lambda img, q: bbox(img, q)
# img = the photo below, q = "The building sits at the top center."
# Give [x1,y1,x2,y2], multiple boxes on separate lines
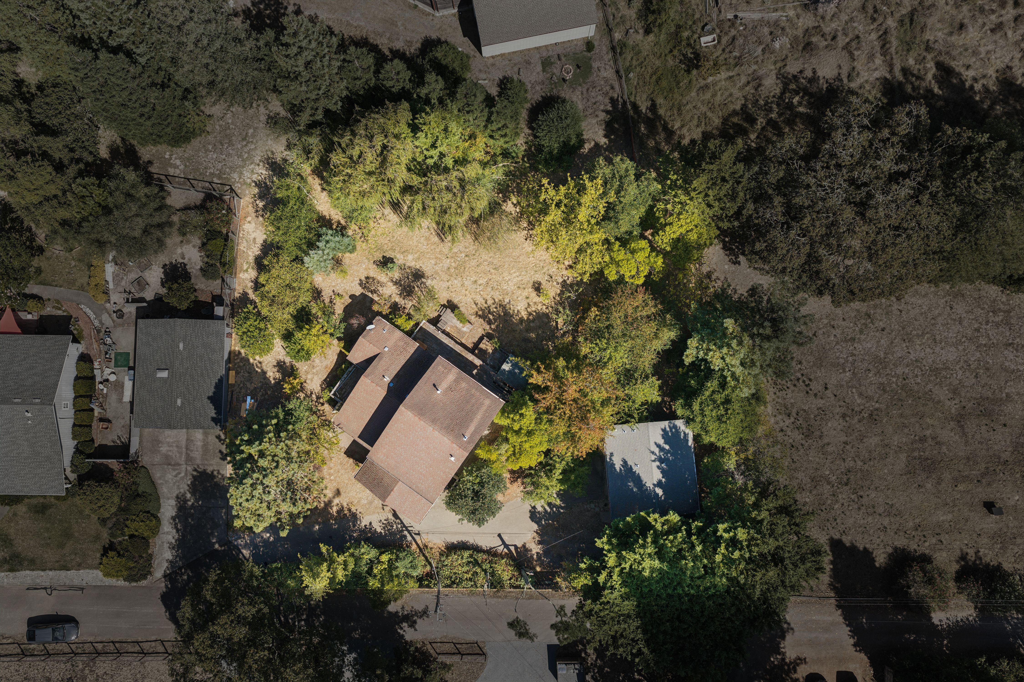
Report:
[472,0,599,54]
